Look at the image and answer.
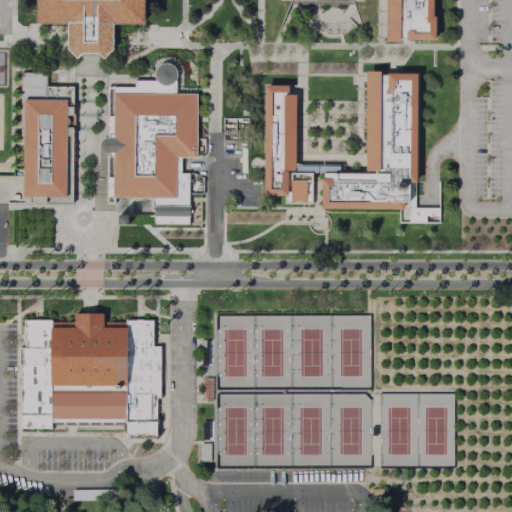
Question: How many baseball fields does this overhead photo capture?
0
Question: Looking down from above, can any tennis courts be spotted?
Yes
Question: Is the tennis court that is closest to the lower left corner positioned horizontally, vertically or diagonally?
vertically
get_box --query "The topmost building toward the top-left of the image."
[36,0,145,58]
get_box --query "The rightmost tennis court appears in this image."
[424,408,449,454]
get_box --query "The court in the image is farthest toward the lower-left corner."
[226,408,247,455]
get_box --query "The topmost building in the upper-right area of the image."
[388,0,438,42]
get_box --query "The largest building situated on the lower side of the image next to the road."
[21,313,162,436]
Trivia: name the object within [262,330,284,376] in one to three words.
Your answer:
tennis court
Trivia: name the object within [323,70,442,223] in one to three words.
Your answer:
building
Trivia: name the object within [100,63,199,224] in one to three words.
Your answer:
building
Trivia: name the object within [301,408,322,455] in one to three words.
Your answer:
tennis court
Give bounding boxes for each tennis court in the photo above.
[262,330,284,376]
[301,408,322,455]
[424,408,449,454]
[302,330,322,376]
[340,408,362,455]
[388,408,412,454]
[262,408,284,455]
[341,330,362,376]
[226,330,246,376]
[226,408,247,455]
